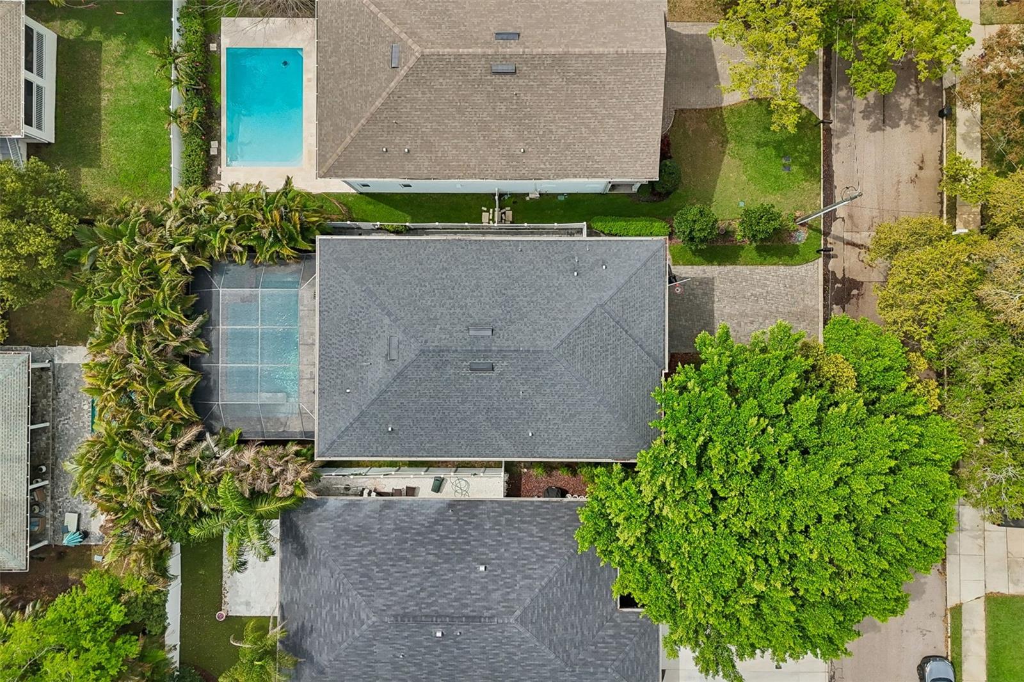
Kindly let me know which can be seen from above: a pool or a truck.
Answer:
pool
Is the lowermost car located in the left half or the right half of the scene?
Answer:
right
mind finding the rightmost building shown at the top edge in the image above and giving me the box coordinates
[314,0,673,193]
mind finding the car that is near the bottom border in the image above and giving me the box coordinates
[920,654,960,682]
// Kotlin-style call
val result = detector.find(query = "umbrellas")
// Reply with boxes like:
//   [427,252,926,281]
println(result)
[60,529,89,548]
